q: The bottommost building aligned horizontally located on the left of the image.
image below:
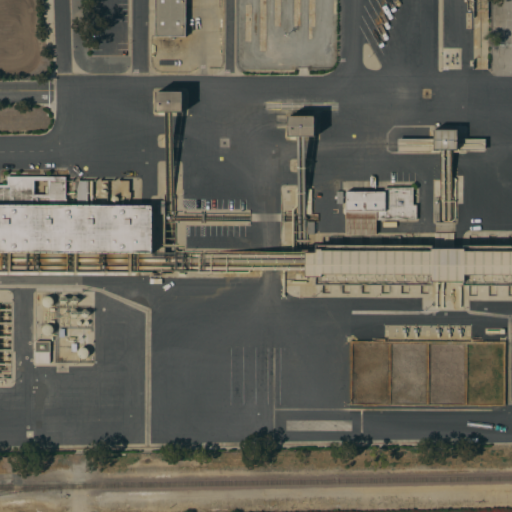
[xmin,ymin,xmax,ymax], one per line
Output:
[0,204,152,252]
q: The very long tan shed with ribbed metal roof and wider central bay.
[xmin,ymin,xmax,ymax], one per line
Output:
[306,249,512,282]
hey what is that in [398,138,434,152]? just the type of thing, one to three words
shed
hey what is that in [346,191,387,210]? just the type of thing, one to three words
building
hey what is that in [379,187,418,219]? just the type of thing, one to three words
building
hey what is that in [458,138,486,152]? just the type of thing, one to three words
shed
